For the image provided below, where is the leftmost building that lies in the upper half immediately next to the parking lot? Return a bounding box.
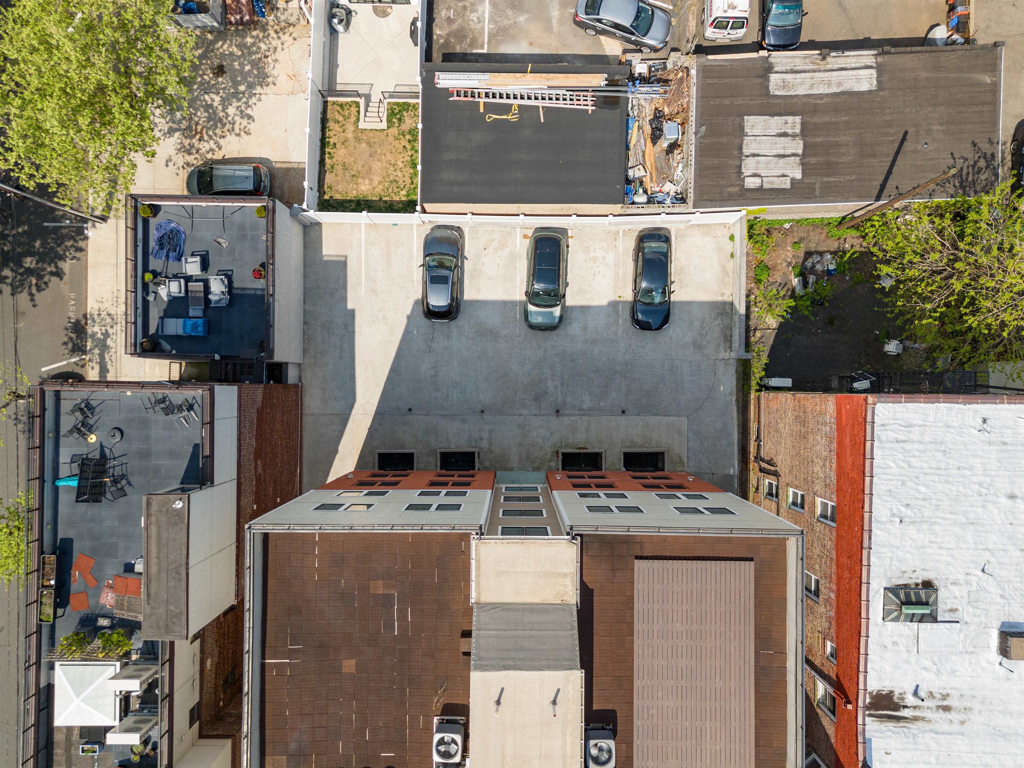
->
[122,192,303,361]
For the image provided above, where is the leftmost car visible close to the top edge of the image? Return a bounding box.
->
[575,0,673,56]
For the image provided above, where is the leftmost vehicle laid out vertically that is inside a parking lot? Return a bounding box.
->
[417,229,464,323]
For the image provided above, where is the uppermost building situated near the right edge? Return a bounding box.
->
[686,37,1010,220]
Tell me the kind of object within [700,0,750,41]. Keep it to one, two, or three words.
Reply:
van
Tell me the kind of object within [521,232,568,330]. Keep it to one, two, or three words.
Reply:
car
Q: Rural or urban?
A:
urban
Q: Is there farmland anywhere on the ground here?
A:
No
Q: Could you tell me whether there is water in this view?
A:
No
